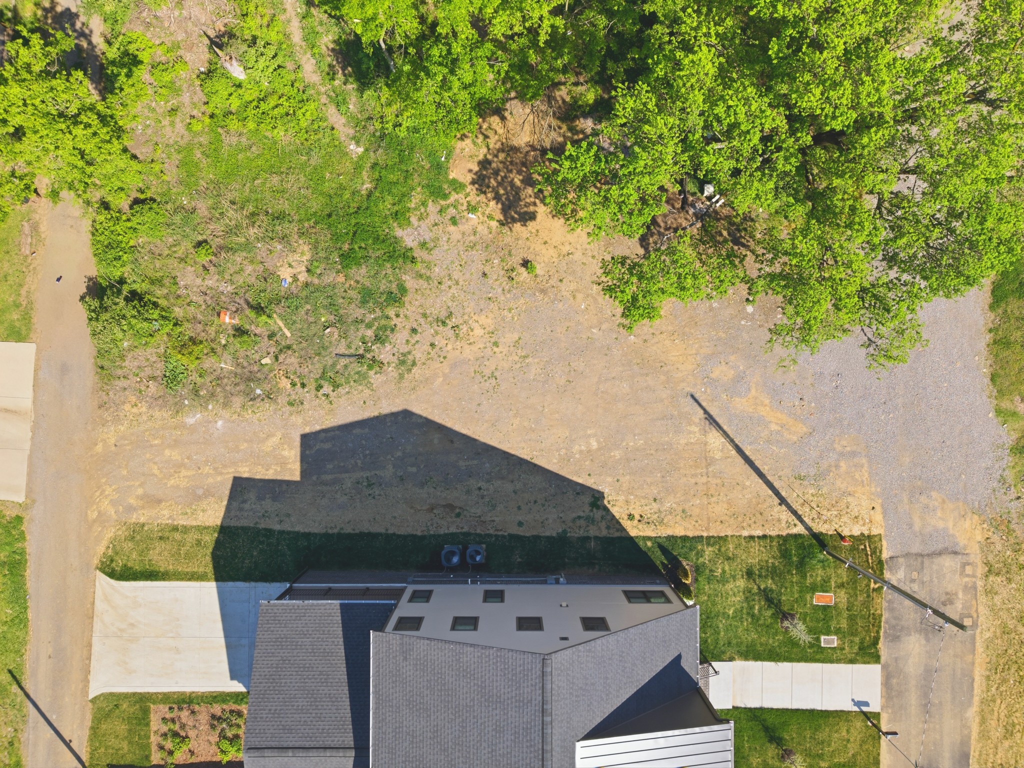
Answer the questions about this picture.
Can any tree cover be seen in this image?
Yes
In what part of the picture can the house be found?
bottom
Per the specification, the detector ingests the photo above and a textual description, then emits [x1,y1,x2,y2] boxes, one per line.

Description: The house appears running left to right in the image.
[246,570,736,768]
